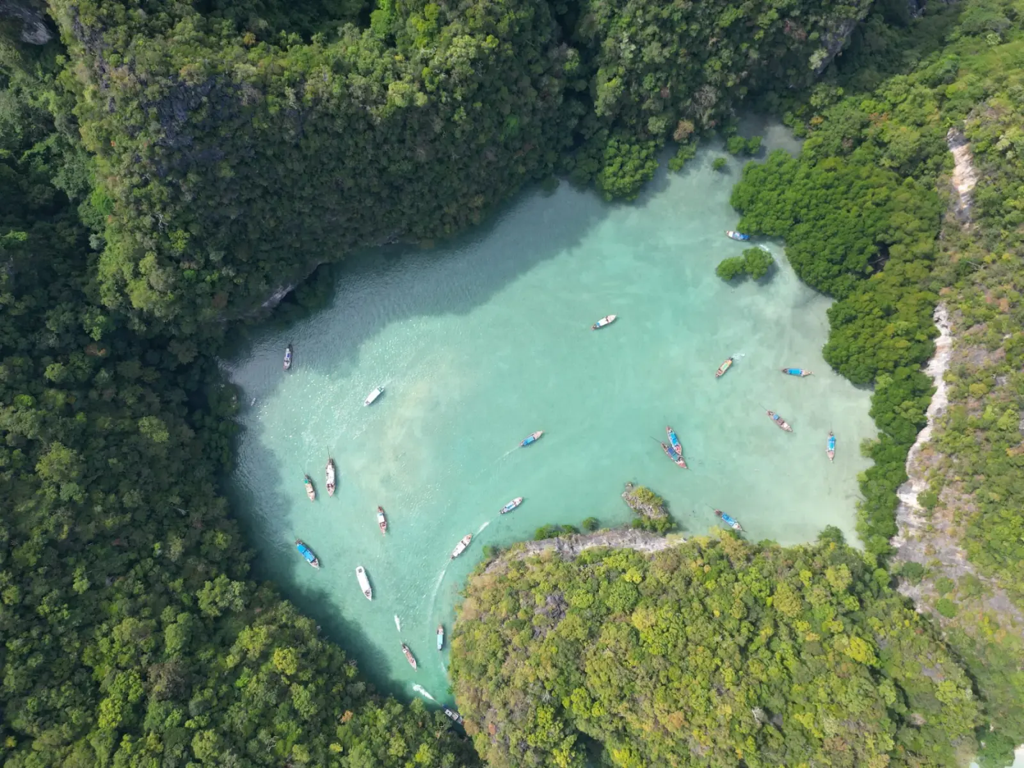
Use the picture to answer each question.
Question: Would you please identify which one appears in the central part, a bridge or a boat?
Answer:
boat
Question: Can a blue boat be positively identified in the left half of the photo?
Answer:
Yes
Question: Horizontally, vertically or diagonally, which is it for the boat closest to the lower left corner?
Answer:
diagonally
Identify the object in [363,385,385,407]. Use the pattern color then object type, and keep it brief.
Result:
white boat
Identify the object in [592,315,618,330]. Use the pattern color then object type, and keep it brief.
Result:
white boat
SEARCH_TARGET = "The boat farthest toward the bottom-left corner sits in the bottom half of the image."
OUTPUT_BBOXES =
[294,536,319,570]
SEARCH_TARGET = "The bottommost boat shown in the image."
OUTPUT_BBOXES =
[441,703,463,726]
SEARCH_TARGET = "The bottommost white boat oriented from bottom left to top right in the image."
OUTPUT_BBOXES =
[450,534,472,560]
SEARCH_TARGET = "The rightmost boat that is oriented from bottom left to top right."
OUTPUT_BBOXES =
[717,358,733,378]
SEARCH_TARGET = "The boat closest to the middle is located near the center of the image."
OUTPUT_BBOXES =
[515,431,544,449]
